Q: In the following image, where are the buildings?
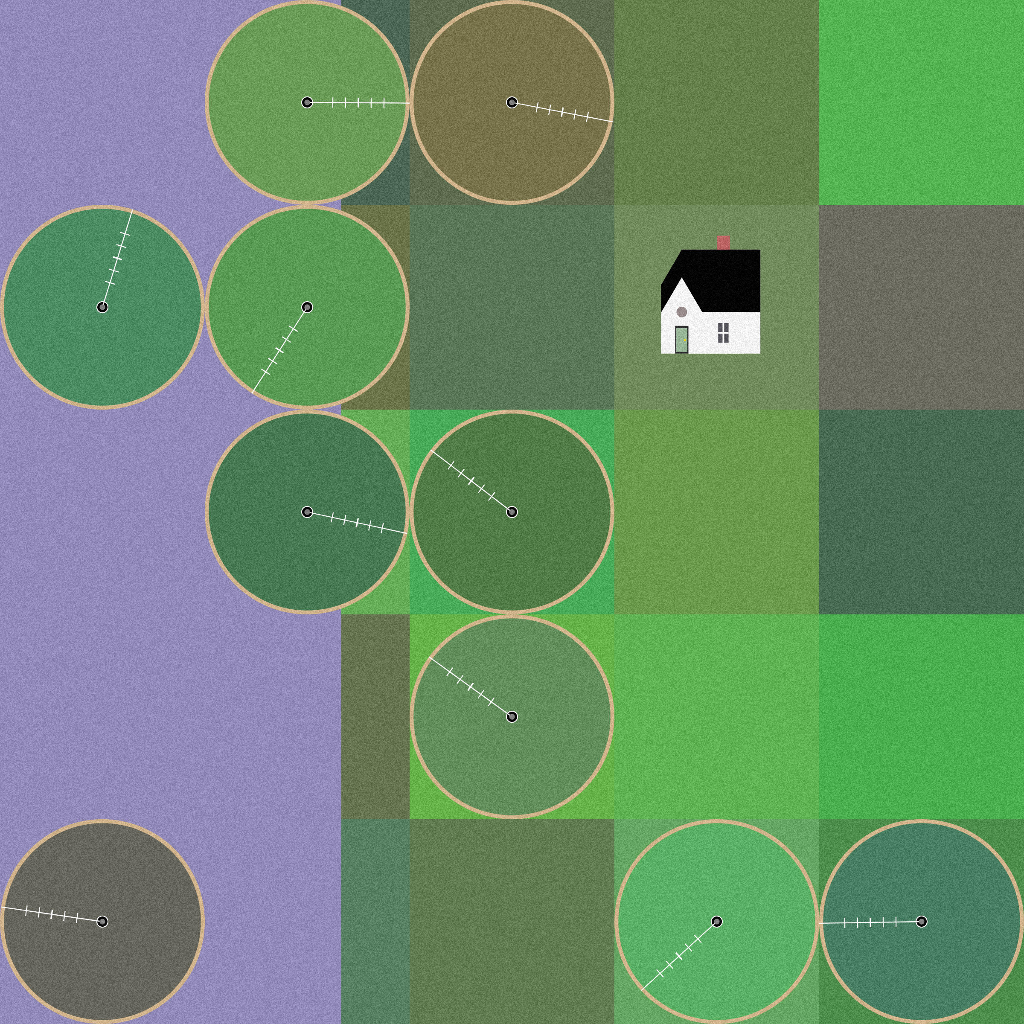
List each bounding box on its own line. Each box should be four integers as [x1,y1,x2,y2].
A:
[661,236,761,354]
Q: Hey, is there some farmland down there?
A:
Yes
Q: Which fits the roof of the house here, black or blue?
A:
black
